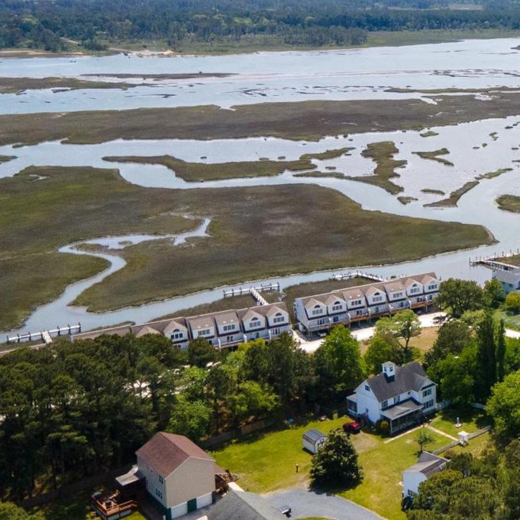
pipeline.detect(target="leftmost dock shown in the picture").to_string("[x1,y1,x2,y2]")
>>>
[7,319,82,351]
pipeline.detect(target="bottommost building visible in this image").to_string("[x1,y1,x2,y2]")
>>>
[210,491,280,520]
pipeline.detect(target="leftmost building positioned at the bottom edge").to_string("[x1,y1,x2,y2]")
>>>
[143,425,240,520]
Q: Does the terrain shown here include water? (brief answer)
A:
Yes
